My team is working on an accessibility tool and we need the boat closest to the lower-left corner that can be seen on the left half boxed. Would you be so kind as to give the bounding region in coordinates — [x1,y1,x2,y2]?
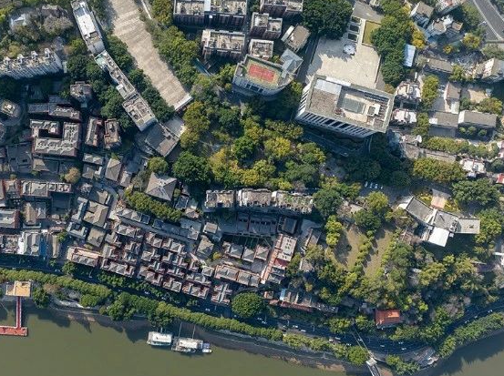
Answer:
[147,329,173,346]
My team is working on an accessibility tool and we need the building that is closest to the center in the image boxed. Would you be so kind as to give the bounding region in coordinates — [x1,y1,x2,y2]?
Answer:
[234,190,273,210]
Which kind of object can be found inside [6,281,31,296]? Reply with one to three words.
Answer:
building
